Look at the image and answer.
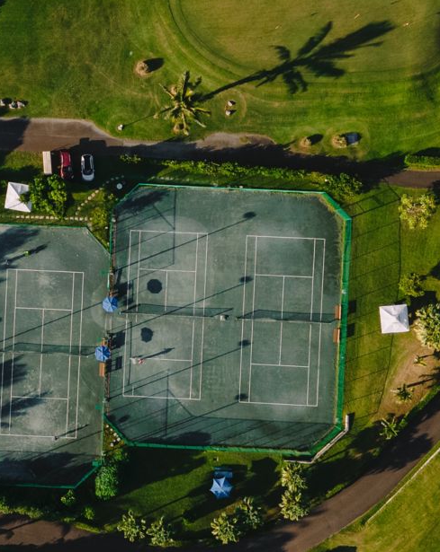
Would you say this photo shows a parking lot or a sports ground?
sports ground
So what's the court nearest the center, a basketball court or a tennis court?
tennis court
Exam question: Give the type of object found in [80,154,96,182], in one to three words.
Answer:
car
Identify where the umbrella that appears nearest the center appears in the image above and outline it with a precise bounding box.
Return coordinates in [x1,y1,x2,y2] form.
[103,296,119,312]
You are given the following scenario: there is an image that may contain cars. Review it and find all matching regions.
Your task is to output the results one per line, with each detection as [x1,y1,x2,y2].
[59,150,74,174]
[80,154,96,182]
